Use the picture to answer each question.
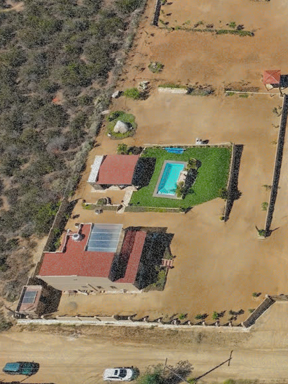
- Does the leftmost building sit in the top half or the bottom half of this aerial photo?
bottom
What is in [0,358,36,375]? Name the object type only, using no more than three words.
vehicle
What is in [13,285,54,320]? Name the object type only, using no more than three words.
building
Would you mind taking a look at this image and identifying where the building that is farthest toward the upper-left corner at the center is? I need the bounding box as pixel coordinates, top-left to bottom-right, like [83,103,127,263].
[88,154,146,191]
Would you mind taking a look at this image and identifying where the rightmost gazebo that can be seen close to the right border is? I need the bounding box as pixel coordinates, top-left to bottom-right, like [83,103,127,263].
[263,69,285,93]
